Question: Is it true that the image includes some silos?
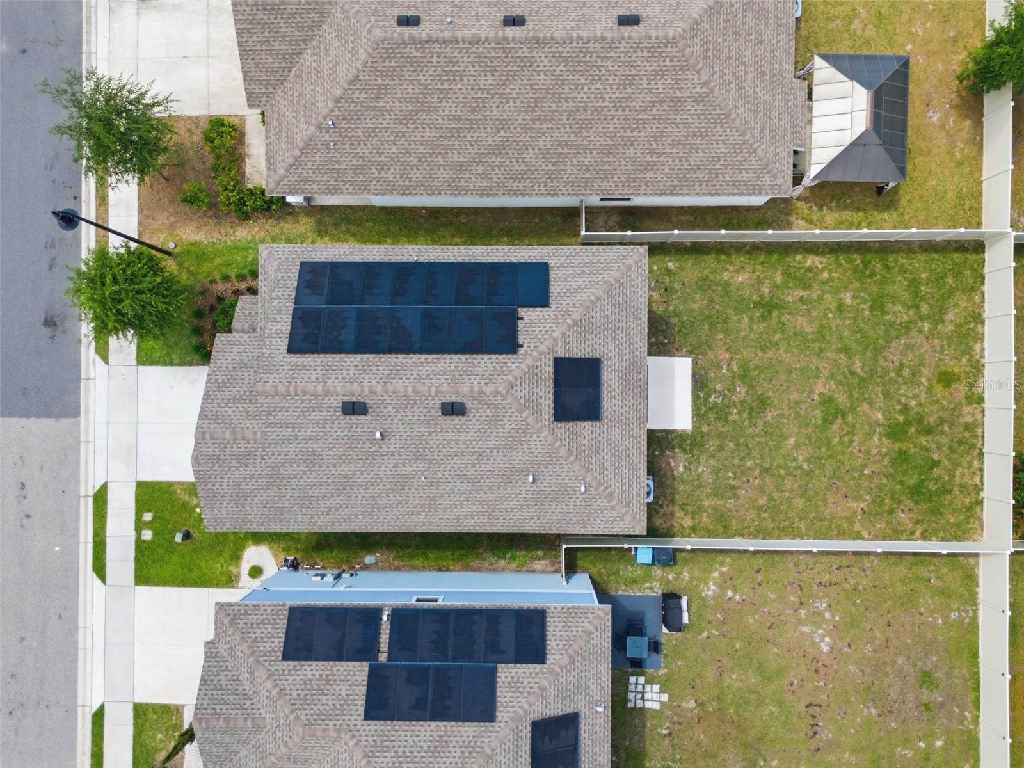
No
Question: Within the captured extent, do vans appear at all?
No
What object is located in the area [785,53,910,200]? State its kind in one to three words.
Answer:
gazebo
